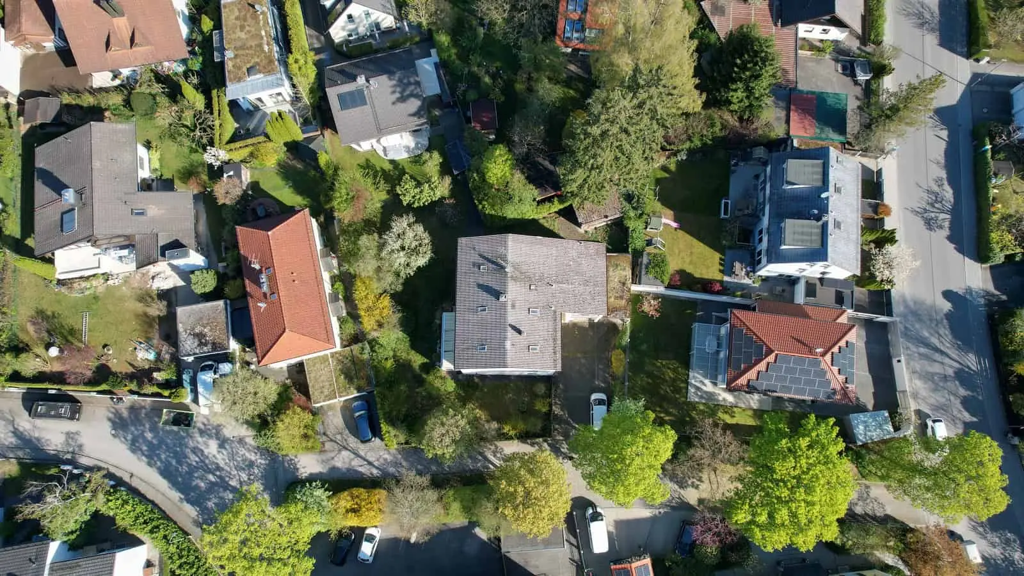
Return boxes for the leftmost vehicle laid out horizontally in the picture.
[28,401,81,420]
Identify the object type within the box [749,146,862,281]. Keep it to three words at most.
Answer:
house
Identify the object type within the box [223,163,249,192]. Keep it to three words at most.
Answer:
shed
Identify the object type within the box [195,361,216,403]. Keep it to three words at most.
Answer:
car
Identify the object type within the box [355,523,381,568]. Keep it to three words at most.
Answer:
car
